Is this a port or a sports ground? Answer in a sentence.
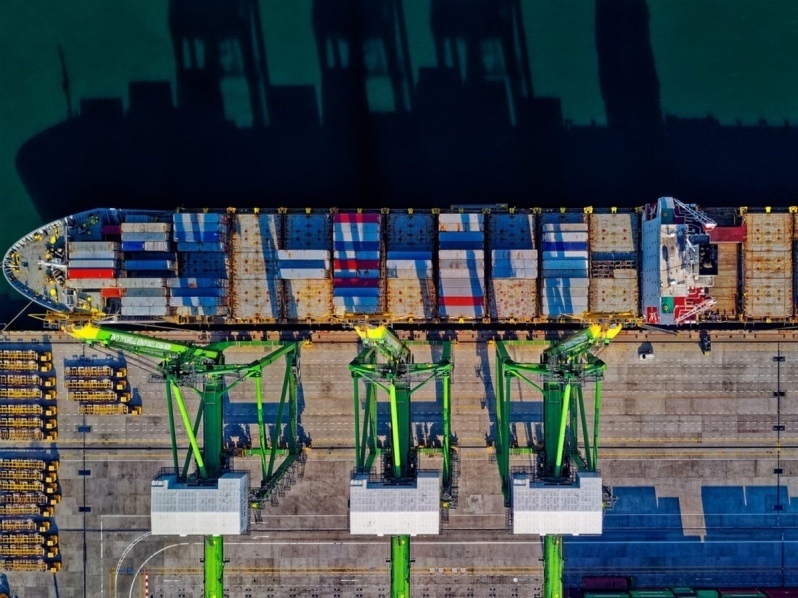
This looks like a port.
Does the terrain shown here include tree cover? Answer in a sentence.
No, the scene doesn't show any tree cover.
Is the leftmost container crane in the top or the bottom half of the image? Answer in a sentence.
The leftmost container crane is in the bottom half of the image.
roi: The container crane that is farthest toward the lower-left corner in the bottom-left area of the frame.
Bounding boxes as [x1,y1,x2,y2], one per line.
[30,311,318,598]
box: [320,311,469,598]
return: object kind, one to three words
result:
container crane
